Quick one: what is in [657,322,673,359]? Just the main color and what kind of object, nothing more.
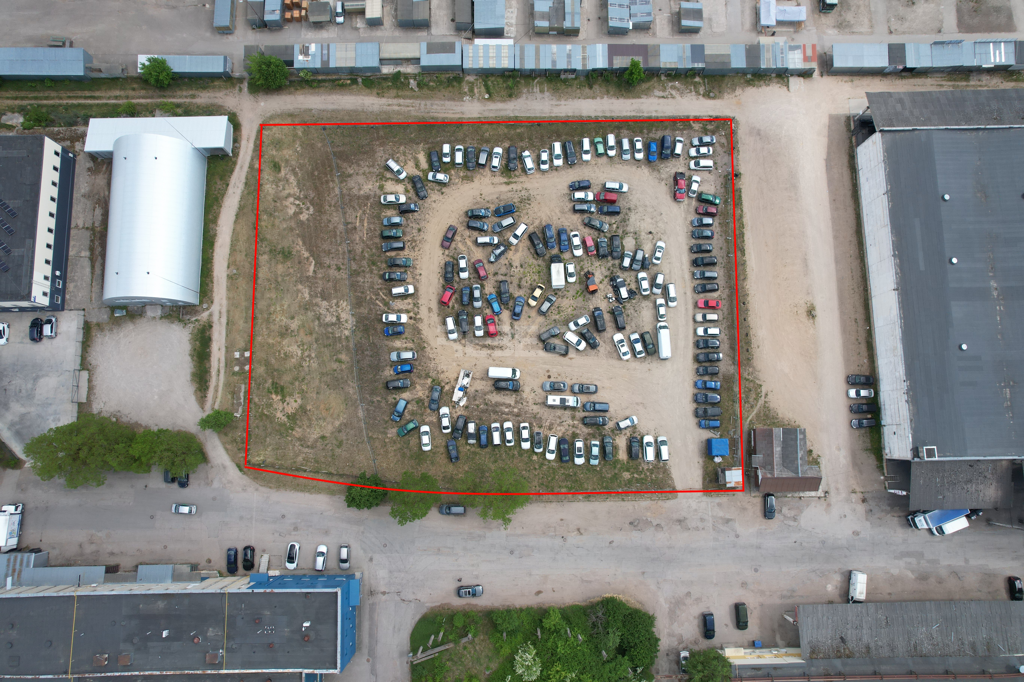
white vehicle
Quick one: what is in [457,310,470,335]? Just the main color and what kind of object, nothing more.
gray vehicle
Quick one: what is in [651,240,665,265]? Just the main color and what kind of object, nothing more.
white car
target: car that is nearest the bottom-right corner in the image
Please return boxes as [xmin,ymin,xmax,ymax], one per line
[1008,577,1022,601]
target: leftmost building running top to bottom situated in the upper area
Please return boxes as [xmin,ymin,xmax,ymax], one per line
[0,134,76,310]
